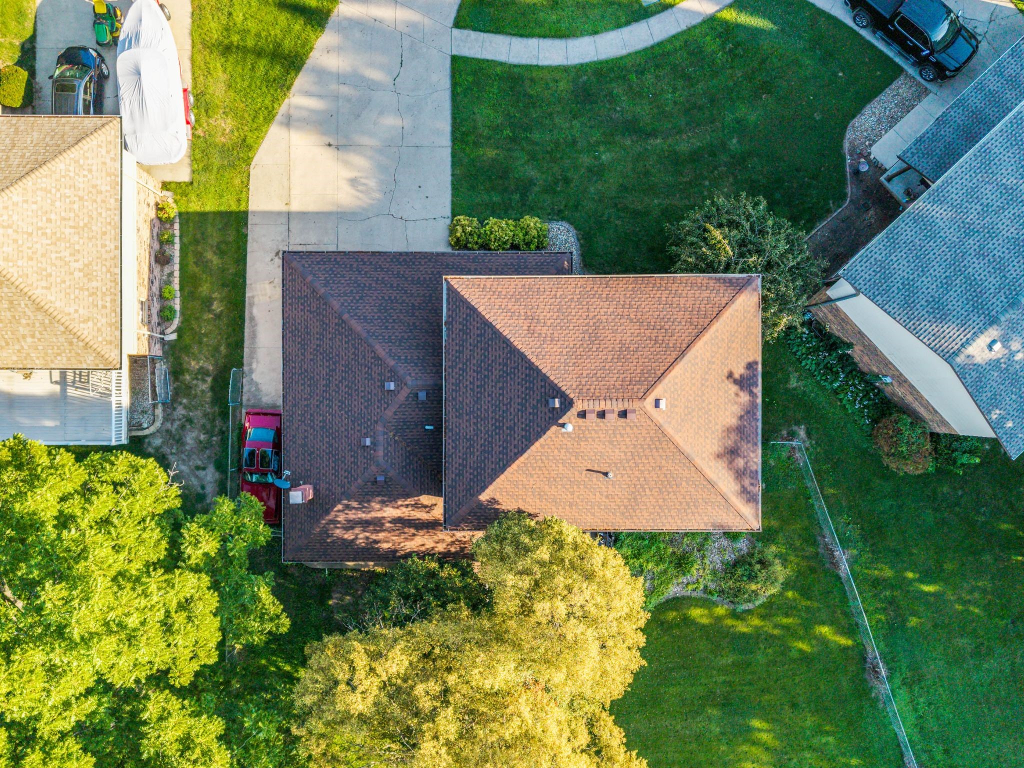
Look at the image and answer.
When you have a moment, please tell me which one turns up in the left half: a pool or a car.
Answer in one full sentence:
The feature located in the left half is a car.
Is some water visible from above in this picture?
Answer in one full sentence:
No, there's no water in this view.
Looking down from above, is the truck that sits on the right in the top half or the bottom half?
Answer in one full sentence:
The top half of the photo is where the truck that sits on the right is.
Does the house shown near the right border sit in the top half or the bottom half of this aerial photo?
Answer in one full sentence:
Seen from above, the house shown near the right border lies in the top half of the view.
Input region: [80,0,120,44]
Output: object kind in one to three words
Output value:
work vehicle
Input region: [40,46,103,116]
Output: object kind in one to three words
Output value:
car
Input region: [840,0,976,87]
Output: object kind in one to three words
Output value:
truck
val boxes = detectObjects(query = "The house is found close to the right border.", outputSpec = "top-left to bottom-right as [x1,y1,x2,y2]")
[806,38,1024,460]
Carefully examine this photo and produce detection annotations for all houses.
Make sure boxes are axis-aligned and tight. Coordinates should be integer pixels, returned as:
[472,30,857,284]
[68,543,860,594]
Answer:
[282,250,761,562]
[806,38,1024,460]
[0,116,167,368]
